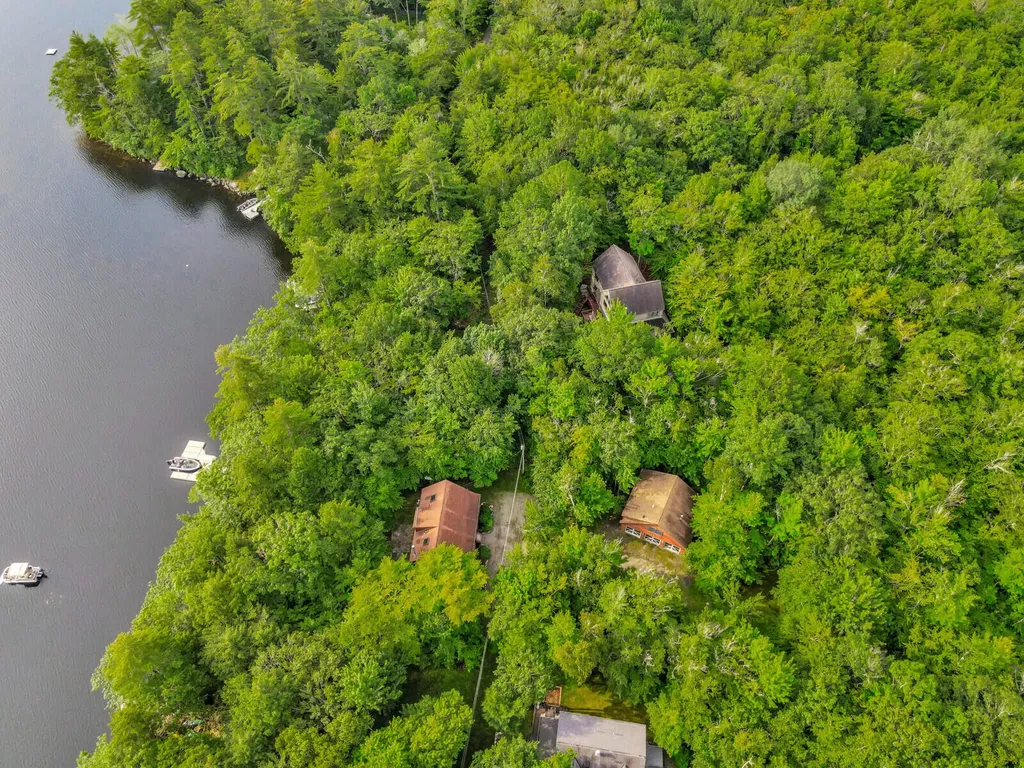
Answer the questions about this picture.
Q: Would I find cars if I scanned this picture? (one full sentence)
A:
No, the photo shows no car.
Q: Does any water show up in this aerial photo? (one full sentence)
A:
Yes, some water is visible.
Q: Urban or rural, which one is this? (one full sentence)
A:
This place is rural.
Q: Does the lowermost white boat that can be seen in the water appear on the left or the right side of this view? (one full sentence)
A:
It is on the left.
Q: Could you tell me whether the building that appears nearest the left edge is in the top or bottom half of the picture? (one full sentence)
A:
The building that appears nearest the left edge is in the bottom half of the image.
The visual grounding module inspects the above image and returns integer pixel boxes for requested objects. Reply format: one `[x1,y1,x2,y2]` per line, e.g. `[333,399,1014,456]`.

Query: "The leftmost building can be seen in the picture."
[407,482,482,562]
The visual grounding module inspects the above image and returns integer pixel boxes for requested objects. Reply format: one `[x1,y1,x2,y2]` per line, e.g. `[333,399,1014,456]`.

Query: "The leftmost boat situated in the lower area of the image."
[2,563,45,584]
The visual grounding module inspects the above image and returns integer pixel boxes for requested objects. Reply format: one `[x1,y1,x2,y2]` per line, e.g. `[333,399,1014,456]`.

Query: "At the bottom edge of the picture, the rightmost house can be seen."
[528,680,663,768]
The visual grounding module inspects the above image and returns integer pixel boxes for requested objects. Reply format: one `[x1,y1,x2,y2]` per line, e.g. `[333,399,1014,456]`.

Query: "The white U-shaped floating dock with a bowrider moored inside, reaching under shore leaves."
[168,438,226,485]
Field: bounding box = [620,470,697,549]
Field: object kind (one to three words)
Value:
building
